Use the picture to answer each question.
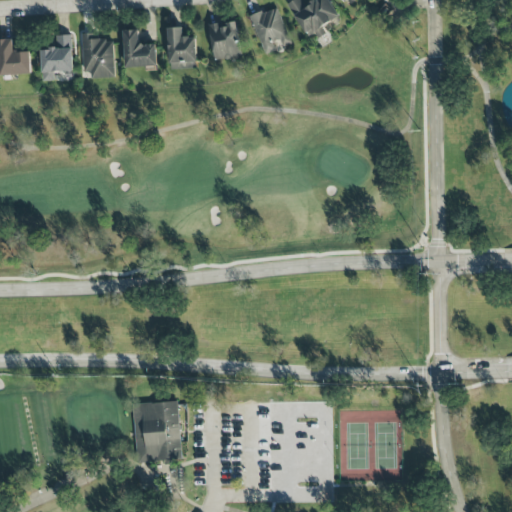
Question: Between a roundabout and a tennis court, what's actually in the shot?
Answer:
tennis court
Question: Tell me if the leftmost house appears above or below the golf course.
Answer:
above it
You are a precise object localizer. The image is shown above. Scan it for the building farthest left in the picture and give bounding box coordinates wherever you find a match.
[0,38,30,80]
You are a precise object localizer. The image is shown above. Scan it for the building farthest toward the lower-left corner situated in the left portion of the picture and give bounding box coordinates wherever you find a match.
[132,402,182,463]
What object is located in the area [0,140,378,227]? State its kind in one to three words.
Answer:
golf course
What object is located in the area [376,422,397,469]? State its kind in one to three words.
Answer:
tennis court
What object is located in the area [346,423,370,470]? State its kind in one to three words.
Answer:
tennis court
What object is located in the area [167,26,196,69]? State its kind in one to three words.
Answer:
house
